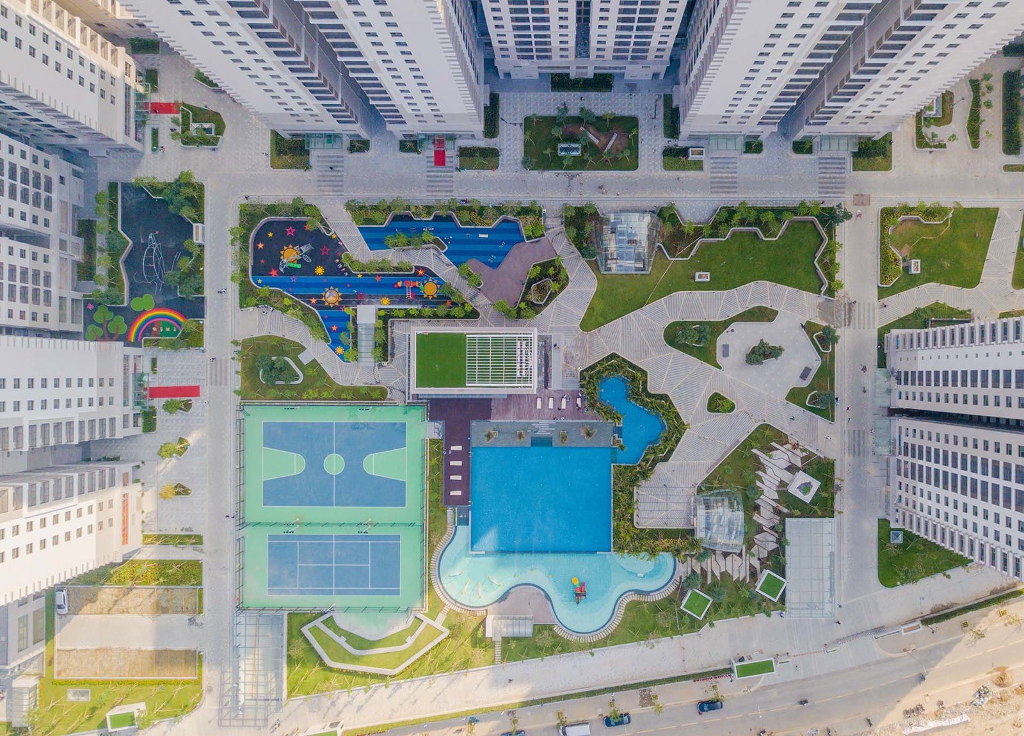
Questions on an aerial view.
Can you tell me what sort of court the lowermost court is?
tennis court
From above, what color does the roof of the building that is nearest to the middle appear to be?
green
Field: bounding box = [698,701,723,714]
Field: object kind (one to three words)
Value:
vehicle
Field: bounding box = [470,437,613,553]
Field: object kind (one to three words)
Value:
swimming pool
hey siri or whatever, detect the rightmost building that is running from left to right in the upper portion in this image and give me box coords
[673,0,1024,141]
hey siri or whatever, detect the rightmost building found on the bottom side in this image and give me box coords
[881,309,1024,596]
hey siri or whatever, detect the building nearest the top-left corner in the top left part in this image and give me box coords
[0,0,150,156]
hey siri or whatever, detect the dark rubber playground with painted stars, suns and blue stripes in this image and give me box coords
[250,221,454,363]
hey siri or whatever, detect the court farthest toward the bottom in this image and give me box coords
[243,525,424,639]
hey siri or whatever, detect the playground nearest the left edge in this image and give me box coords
[82,182,205,344]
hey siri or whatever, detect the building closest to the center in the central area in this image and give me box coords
[411,327,538,398]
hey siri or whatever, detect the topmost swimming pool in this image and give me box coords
[600,377,666,465]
